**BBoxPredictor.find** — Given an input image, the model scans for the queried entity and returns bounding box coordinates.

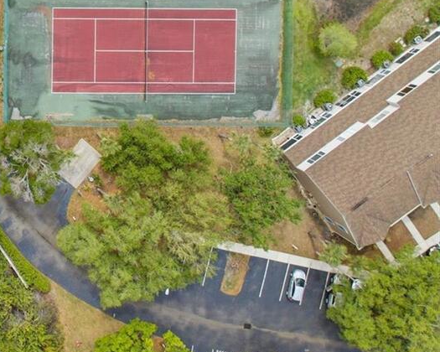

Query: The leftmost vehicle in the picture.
[284,266,307,303]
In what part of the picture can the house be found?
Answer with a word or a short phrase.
right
